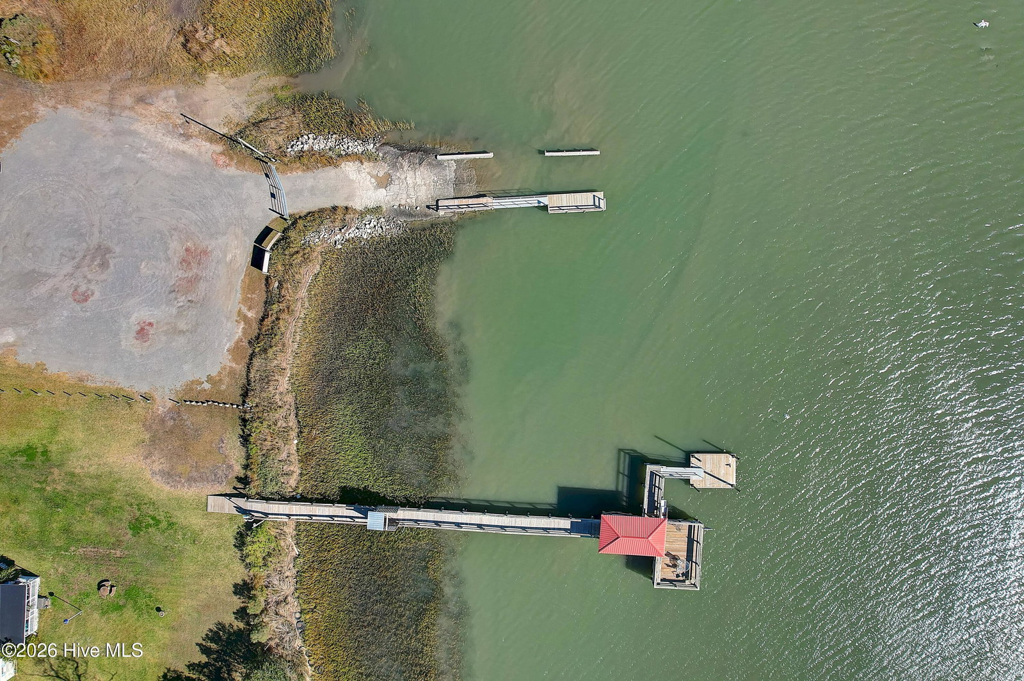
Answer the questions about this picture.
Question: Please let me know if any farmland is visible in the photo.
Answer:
No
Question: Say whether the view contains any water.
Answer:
Yes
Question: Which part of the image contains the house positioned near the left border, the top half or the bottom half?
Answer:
bottom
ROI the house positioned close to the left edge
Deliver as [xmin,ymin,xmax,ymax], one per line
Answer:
[0,576,52,647]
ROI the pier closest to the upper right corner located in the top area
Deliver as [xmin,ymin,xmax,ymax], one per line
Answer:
[547,190,606,214]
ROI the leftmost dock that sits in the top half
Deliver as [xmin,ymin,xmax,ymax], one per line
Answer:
[437,196,494,214]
